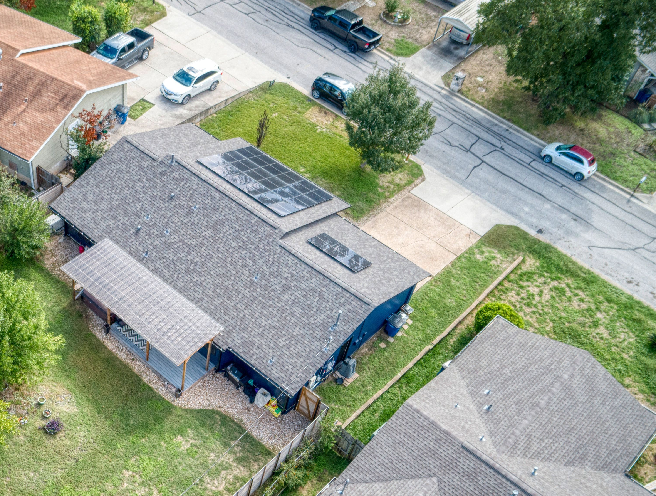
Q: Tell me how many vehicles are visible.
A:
6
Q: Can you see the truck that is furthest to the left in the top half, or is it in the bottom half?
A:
top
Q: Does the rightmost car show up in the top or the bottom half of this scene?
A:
top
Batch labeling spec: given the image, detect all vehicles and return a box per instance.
[156,57,228,107]
[446,16,482,46]
[309,67,365,116]
[308,5,387,55]
[86,29,160,70]
[541,141,608,184]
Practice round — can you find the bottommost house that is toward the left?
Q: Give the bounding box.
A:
[46,121,432,417]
